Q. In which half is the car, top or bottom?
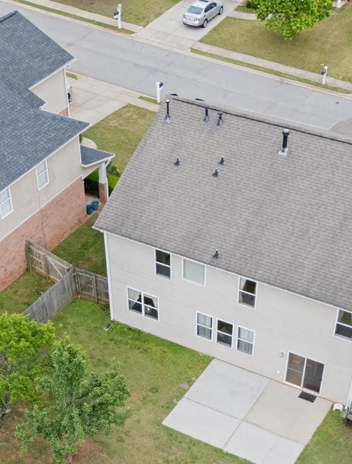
top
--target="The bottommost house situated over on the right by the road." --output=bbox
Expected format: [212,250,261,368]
[91,98,352,409]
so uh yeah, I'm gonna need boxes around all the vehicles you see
[185,0,221,25]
